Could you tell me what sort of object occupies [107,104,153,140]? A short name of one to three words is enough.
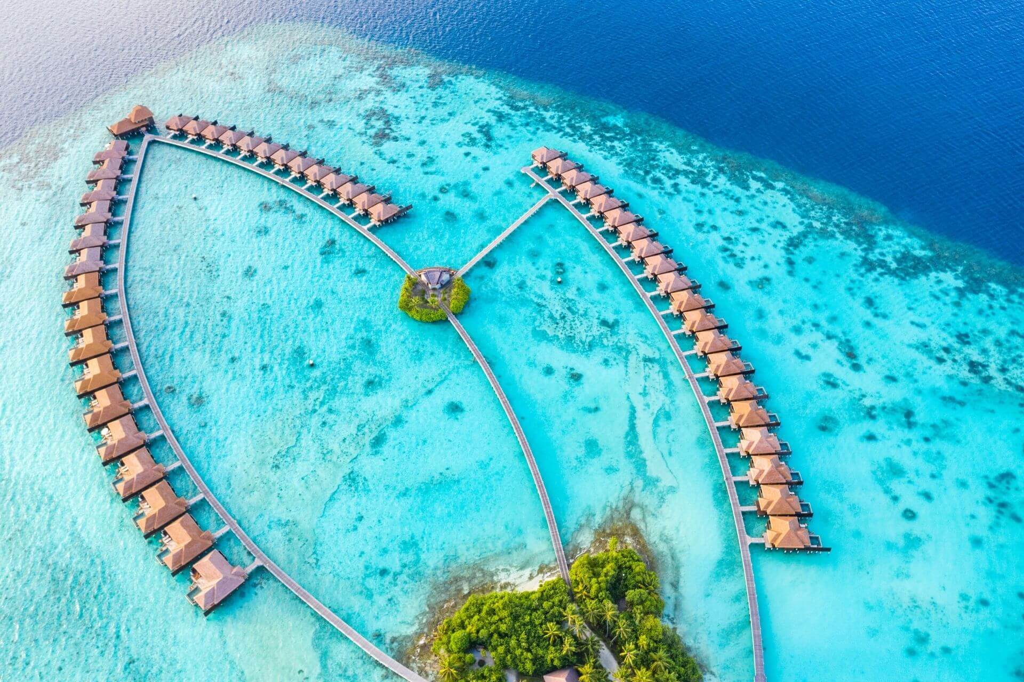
building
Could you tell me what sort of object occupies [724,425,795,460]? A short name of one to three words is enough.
house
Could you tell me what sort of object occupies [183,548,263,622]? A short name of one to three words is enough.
house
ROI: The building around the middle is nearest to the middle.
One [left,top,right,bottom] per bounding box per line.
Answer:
[415,265,456,291]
